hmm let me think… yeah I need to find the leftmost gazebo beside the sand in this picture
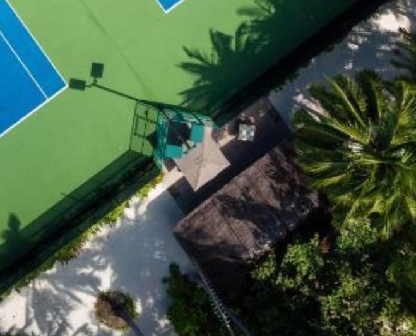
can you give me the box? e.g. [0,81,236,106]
[170,133,232,193]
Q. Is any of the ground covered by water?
No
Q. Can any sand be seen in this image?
Yes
